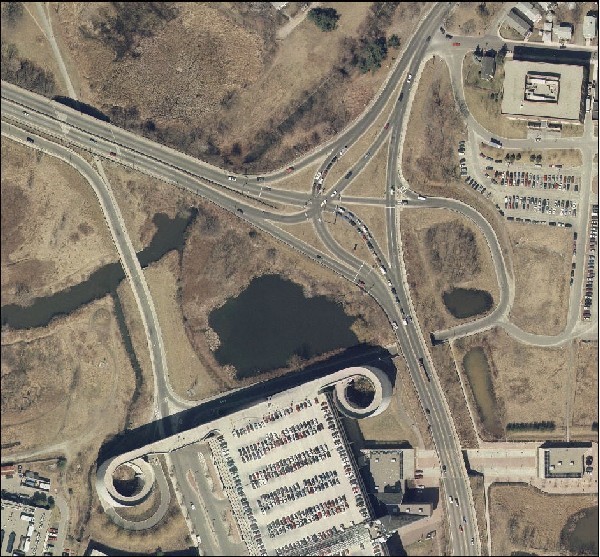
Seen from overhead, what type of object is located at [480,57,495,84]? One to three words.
house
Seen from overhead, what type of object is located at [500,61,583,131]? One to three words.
building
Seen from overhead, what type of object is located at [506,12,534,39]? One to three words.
house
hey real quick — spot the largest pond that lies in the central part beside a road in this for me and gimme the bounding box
[209,272,357,378]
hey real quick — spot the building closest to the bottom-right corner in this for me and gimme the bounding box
[537,447,584,477]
